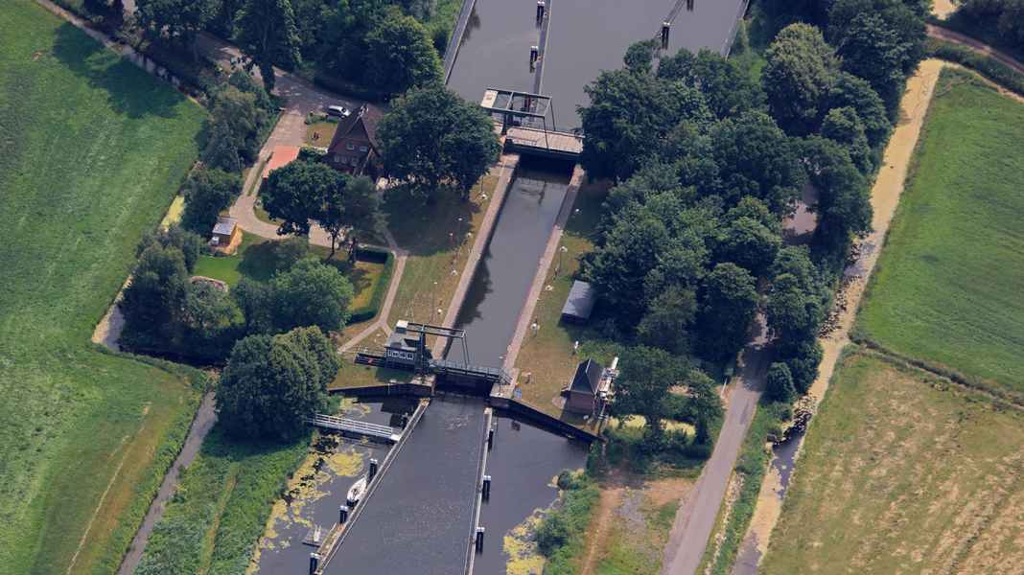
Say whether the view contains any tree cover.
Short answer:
Yes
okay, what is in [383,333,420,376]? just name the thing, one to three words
shed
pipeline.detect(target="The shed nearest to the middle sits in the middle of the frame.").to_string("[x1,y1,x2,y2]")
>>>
[563,282,595,330]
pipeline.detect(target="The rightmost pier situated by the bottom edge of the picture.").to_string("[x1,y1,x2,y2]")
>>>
[462,405,495,575]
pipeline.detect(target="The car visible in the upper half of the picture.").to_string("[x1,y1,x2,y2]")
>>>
[325,103,349,118]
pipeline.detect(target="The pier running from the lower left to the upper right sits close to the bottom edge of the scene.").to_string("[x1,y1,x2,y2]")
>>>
[313,396,434,575]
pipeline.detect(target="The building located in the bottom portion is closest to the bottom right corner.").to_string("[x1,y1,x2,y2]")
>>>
[559,356,605,408]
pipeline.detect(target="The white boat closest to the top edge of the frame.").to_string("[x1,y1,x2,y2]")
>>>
[348,472,367,503]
